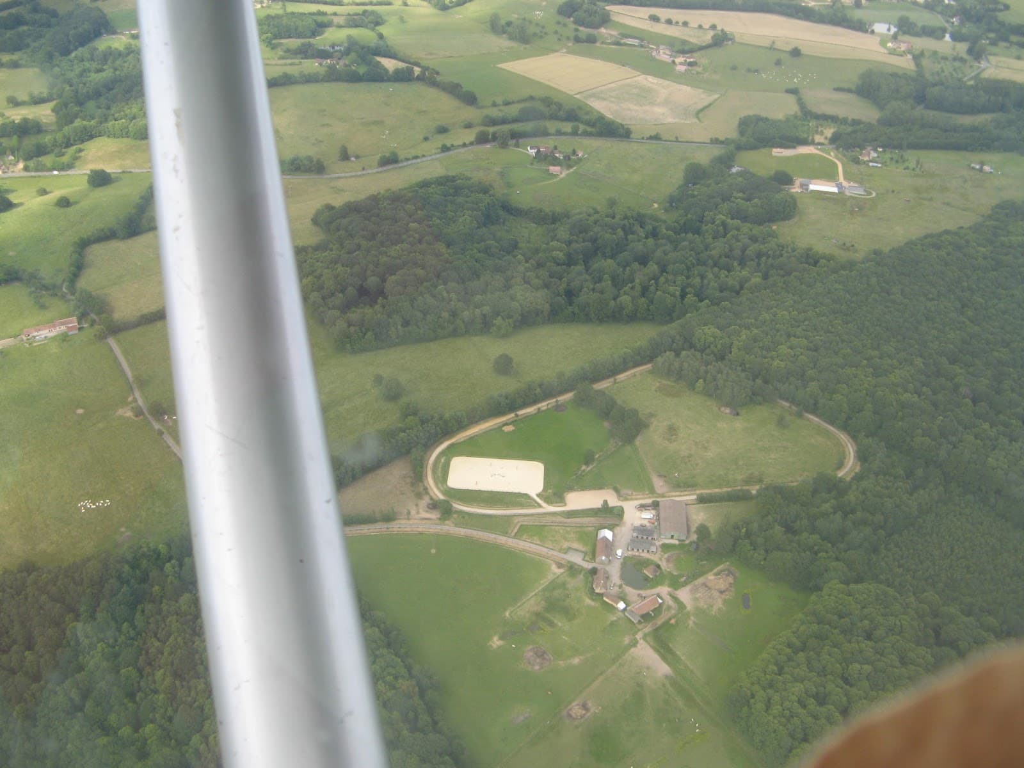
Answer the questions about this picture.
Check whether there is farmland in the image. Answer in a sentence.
Yes, the picture does contain farmland.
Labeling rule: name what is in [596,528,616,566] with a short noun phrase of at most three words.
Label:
barn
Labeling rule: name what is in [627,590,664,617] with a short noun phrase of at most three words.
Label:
barn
